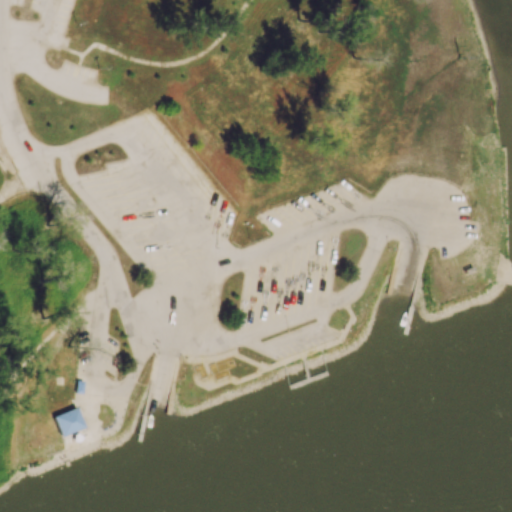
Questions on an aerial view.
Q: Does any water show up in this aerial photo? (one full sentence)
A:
Yes, water can be seen from above here.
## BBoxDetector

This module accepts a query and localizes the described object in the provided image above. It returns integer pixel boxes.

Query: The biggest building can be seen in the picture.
[56,408,86,437]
